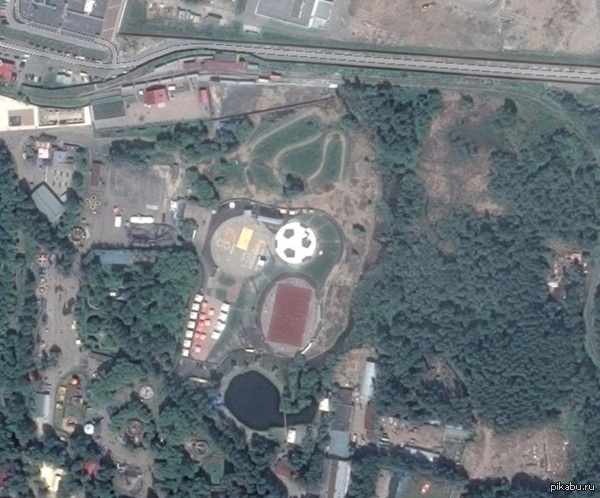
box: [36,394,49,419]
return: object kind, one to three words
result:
building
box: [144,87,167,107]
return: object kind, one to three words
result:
house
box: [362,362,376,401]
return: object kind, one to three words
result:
building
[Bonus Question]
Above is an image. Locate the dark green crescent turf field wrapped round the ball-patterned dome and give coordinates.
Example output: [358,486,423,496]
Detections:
[261,209,342,288]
